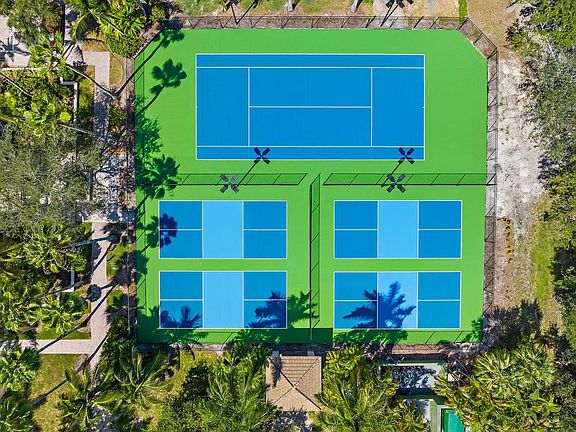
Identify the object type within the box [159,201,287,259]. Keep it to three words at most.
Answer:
sports court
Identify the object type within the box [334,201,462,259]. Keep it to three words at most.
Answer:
sports court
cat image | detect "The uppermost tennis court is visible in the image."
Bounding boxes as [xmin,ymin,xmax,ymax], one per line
[196,54,425,160]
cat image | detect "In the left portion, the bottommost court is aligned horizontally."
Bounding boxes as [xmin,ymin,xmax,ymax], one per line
[159,271,287,329]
